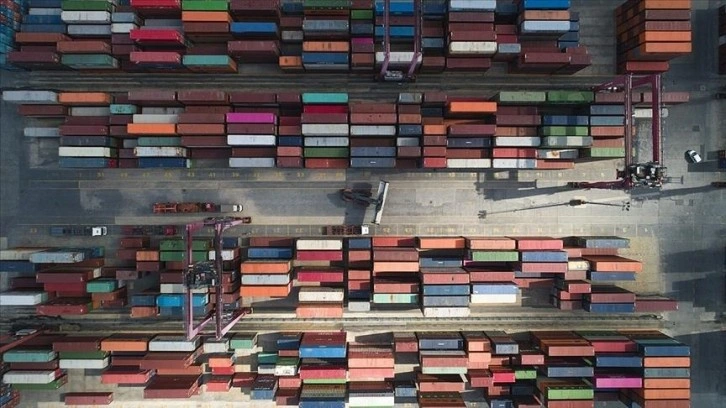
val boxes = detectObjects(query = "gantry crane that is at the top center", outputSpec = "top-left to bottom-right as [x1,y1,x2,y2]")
[374,0,425,82]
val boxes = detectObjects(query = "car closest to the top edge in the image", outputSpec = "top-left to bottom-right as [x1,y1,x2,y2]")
[690,150,703,164]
